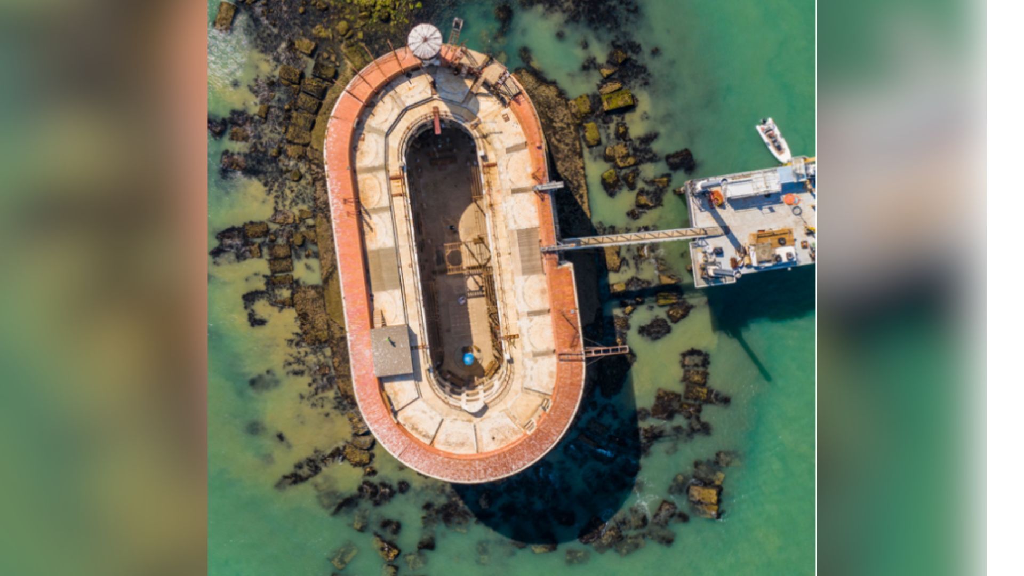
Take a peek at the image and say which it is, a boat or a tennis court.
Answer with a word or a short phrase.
boat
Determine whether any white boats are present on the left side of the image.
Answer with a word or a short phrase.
No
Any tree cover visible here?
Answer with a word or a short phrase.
No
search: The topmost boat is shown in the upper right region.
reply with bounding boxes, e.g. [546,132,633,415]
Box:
[757,118,791,162]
